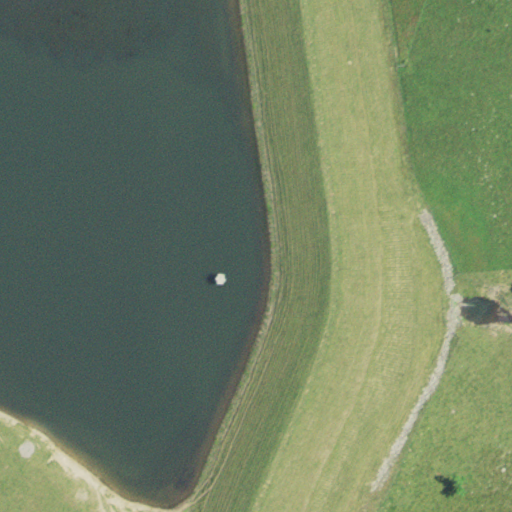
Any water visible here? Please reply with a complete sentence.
Yes, there is water in the image.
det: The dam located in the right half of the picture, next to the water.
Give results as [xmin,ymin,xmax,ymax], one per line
[182,0,464,512]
